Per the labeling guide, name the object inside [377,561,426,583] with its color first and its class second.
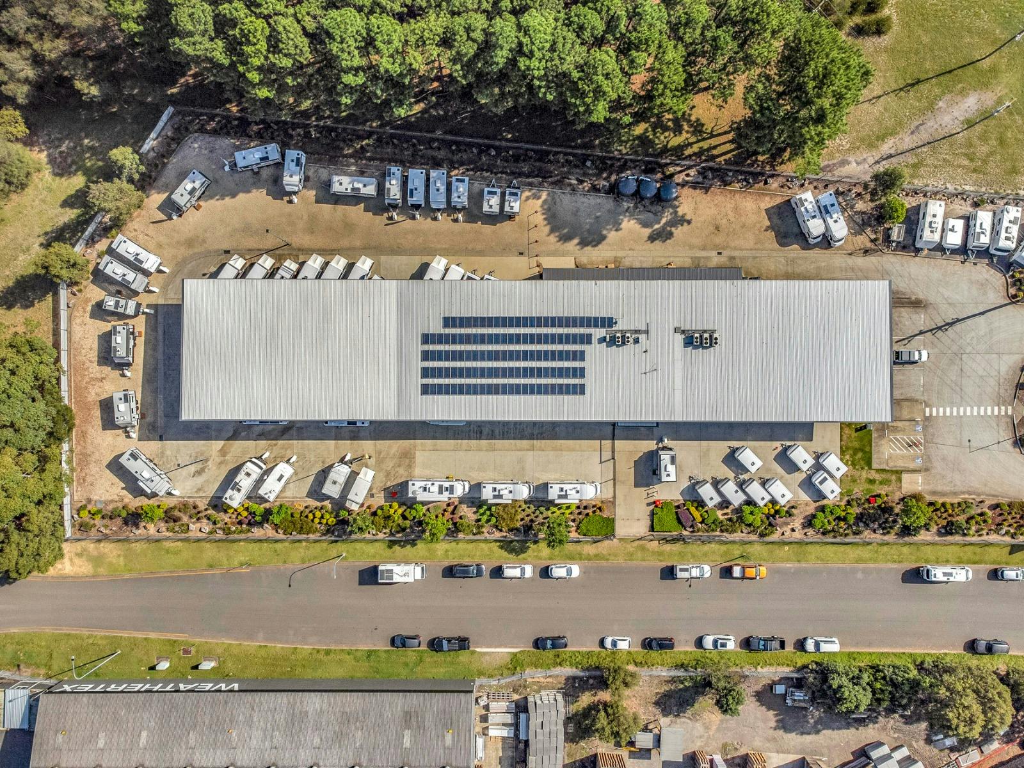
white truck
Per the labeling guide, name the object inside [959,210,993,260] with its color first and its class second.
white camper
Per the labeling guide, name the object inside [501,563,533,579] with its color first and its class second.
white car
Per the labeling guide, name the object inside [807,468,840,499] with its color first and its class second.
white vehicle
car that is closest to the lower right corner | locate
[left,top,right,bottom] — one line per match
[974,638,1010,654]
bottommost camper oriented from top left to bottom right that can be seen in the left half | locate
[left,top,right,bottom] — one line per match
[120,445,183,497]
